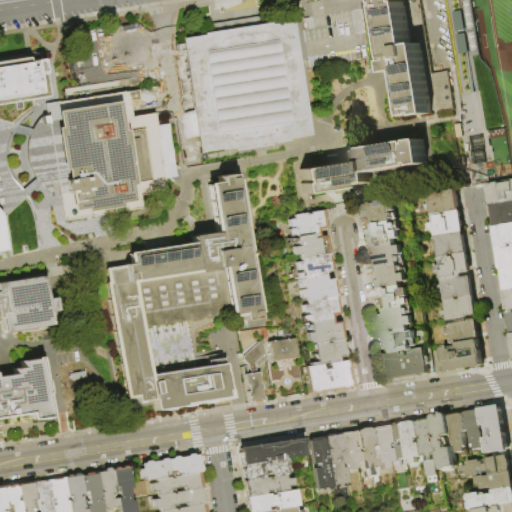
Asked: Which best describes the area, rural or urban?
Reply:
urban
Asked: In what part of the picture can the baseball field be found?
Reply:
top right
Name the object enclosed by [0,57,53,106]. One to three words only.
building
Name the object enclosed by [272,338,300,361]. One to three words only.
house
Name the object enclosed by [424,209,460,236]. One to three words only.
building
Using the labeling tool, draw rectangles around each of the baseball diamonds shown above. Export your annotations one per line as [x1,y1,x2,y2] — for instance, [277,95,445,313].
[475,0,512,128]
